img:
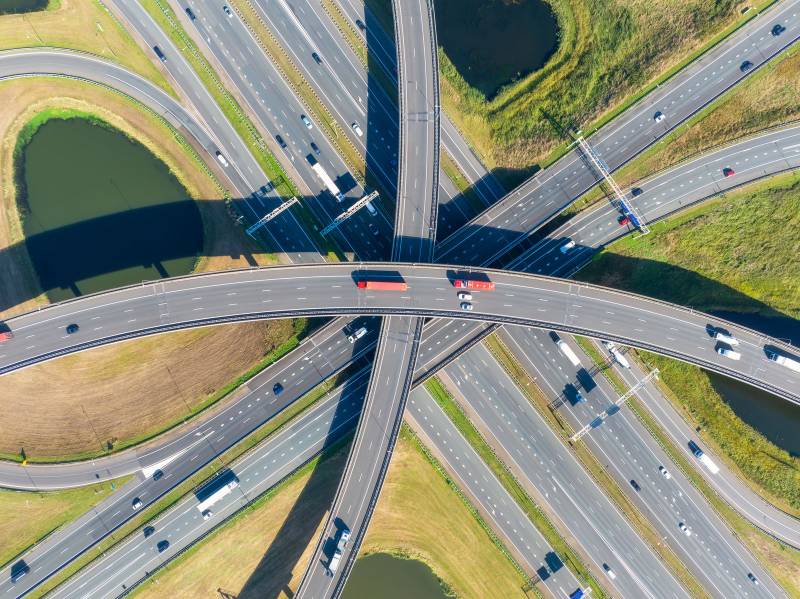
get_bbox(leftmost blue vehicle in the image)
[13,565,31,579]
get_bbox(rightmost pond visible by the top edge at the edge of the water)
[433,0,559,100]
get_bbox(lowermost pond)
[341,553,452,599]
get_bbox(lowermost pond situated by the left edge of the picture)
[20,116,205,304]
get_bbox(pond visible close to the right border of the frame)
[686,304,800,458]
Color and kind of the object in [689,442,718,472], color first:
white truck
